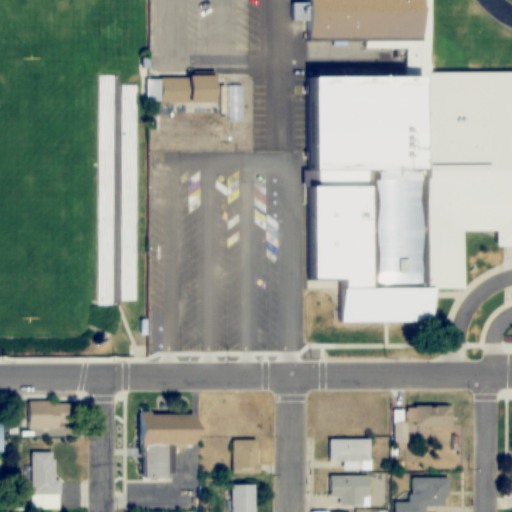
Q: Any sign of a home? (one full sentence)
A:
Yes, I can see a home in this picture.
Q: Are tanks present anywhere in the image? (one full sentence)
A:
No, there appears to be no tank in this shot.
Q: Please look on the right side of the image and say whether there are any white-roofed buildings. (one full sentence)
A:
Yes, there is a white-roofed building on the right side of the image.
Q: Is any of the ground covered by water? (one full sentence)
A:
No, the picture contains no water.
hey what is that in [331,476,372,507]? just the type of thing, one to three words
house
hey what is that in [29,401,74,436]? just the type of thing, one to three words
house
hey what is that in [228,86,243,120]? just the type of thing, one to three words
shed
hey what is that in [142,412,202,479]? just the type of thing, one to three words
building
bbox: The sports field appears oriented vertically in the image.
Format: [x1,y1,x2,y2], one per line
[0,0,144,338]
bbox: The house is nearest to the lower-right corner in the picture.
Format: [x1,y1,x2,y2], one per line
[395,476,450,512]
